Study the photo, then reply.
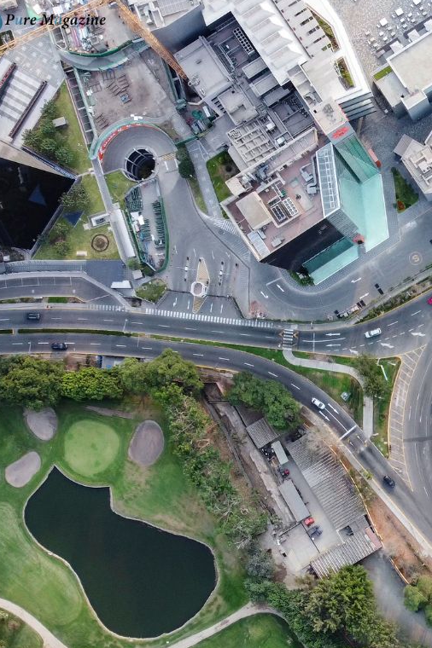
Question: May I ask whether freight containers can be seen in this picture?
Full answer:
Yes, there is a freight container in the image.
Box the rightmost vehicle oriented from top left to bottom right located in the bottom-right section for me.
[382,474,396,488]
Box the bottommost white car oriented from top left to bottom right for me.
[310,397,325,411]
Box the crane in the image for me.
[0,0,183,55]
